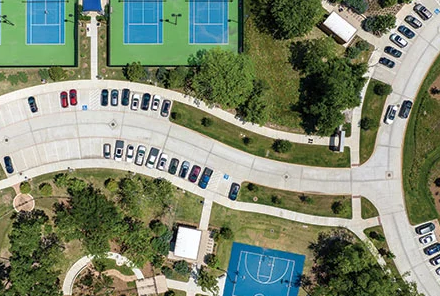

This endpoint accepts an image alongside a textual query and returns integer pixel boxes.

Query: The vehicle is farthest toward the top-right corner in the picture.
[413,4,432,21]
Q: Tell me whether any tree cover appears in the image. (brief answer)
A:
Yes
